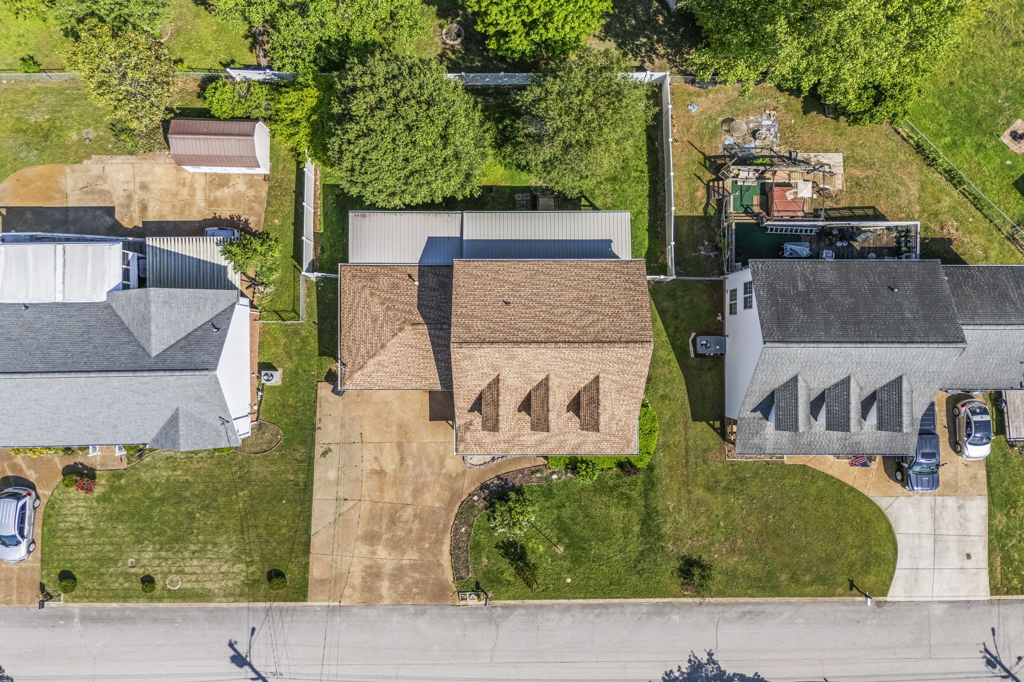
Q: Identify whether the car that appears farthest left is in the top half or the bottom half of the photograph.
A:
bottom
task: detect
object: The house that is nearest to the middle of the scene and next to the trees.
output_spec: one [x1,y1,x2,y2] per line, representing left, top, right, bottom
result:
[338,258,654,457]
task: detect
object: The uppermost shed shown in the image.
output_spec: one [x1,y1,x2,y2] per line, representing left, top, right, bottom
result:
[170,119,269,178]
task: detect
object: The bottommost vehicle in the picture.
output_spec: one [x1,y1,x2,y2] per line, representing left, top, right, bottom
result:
[0,489,41,562]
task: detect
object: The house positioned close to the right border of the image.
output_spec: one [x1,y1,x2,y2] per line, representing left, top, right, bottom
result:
[722,258,1024,456]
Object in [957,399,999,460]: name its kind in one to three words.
car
